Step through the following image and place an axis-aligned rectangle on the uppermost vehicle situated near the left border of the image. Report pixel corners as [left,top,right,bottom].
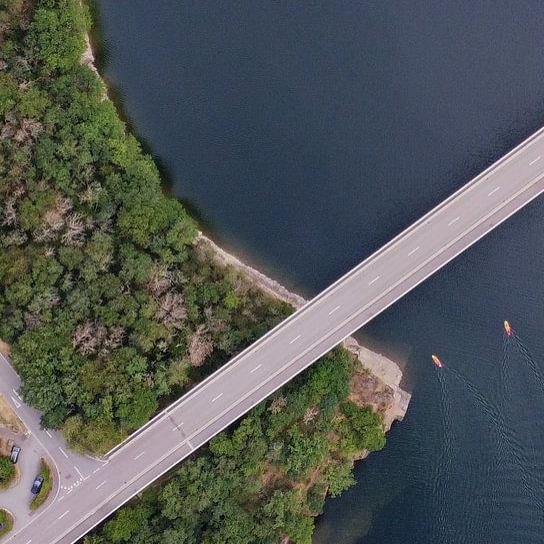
[10,445,22,463]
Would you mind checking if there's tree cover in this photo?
Yes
